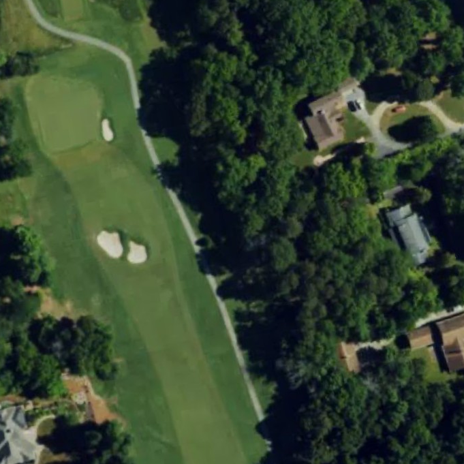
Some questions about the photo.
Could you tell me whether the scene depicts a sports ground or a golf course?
golf course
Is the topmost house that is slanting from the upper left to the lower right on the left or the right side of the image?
right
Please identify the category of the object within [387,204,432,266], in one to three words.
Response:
house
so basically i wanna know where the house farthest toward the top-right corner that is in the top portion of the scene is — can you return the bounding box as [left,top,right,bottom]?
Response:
[304,76,362,150]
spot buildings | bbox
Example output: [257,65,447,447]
[387,204,432,266]
[304,76,362,150]
[338,342,362,374]
[433,314,464,376]
[0,405,44,464]
[407,326,434,350]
